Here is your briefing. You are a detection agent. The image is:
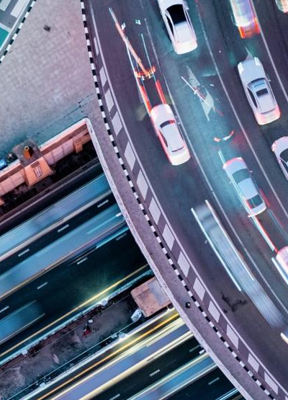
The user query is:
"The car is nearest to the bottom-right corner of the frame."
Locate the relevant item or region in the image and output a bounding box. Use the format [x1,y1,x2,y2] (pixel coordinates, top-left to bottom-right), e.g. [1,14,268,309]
[165,351,220,392]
